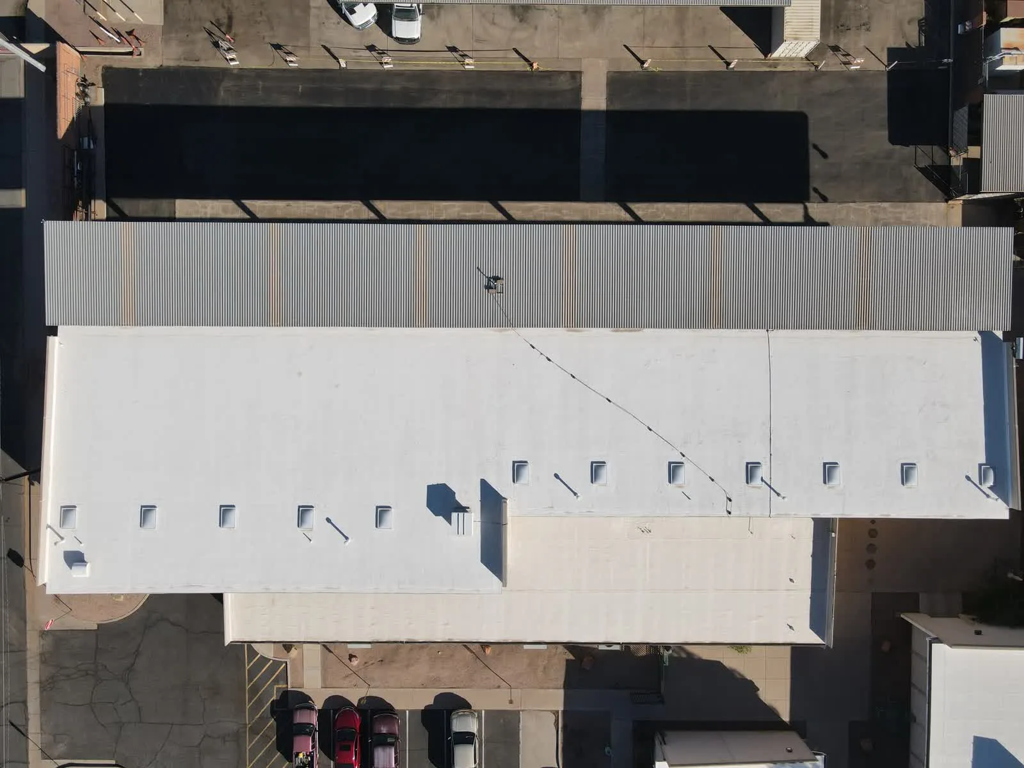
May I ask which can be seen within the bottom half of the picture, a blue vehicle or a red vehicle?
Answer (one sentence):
It is a red vehicle that can be seen within the bottom half of the picture.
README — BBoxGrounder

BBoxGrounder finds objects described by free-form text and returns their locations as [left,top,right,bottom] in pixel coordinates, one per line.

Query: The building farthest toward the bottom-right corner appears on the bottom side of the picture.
[901,610,1024,768]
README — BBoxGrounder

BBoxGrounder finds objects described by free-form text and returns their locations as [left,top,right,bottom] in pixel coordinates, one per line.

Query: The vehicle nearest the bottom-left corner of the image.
[287,701,320,768]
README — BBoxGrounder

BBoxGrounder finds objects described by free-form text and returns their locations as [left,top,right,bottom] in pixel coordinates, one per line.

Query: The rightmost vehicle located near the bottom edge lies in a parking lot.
[447,705,481,768]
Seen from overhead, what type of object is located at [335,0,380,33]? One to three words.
truck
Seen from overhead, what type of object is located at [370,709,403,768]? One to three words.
car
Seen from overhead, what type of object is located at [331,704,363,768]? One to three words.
car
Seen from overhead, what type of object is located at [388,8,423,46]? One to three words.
truck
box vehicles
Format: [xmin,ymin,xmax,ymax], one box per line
[447,705,481,768]
[287,701,320,768]
[331,704,363,768]
[388,8,423,46]
[335,0,380,33]
[370,709,403,768]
